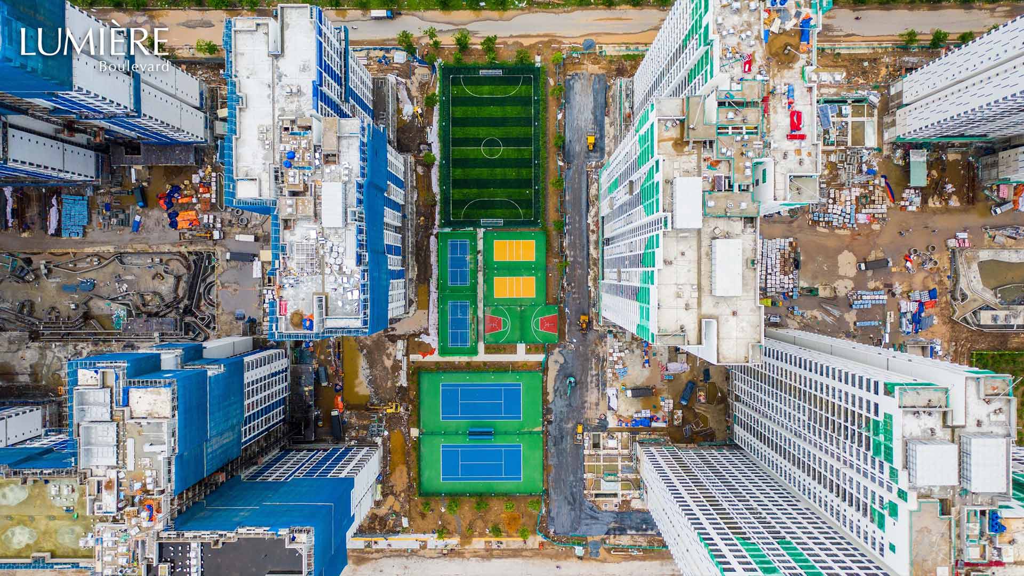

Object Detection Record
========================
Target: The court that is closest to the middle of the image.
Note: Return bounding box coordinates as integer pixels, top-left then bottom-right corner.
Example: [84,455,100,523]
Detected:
[484,269,546,305]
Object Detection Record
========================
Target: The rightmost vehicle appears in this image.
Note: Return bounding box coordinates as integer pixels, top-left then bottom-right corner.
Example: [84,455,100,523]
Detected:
[994,197,1023,215]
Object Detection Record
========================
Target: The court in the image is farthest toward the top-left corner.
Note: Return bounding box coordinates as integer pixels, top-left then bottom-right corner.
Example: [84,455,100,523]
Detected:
[439,231,477,293]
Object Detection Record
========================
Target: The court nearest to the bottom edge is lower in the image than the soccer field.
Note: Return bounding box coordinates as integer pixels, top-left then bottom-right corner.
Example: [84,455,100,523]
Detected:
[419,436,543,497]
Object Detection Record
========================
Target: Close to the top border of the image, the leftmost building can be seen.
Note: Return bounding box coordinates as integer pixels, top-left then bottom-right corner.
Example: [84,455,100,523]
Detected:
[0,0,203,143]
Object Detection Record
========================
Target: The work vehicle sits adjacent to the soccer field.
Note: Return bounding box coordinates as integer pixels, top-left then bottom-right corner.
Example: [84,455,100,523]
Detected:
[413,101,427,132]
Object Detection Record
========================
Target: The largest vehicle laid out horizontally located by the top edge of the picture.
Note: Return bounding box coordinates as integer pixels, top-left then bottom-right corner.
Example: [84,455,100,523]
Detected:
[367,5,393,17]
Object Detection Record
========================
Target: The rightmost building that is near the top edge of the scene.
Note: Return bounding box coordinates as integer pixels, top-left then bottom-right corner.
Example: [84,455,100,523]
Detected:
[901,14,1024,142]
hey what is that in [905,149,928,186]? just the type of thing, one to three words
shed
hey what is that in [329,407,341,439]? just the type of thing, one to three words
vehicle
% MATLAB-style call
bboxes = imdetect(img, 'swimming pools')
[951,248,1024,332]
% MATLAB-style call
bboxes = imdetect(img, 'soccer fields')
[441,66,539,227]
